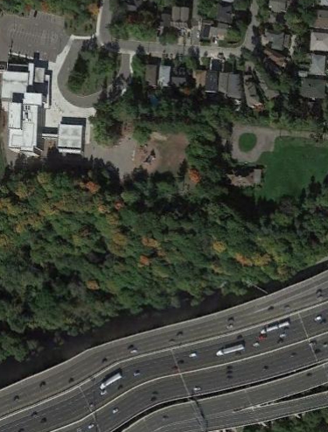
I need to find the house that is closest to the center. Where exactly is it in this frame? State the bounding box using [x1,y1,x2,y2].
[228,172,255,187]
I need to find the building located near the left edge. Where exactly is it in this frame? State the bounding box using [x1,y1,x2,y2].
[1,63,85,155]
